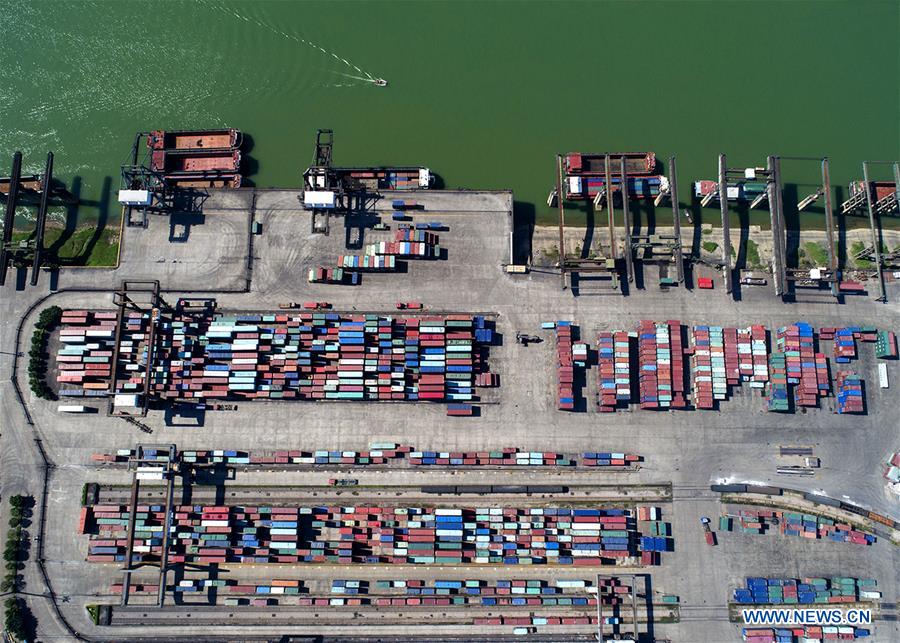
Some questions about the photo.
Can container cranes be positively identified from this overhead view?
Yes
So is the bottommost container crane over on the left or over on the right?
right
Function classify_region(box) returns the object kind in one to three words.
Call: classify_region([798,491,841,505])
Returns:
rail car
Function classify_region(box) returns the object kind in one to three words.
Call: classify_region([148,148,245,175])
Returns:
ship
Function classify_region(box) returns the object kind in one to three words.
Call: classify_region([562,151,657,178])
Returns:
ship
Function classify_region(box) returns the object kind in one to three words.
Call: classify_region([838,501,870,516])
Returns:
rail car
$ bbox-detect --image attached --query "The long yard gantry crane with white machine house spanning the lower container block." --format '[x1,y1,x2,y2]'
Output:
[119,444,194,606]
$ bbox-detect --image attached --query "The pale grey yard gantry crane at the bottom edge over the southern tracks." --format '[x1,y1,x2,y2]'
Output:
[586,573,640,643]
